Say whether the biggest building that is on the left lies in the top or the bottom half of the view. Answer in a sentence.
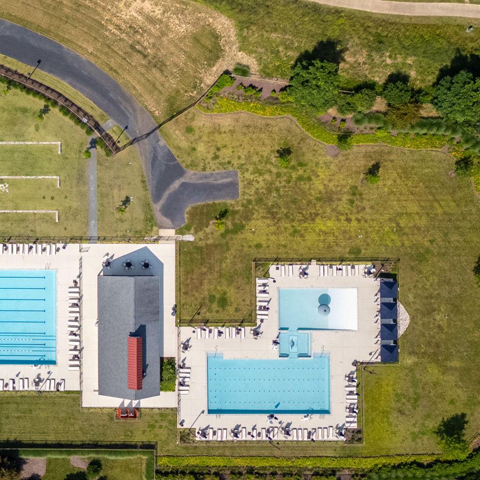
Seen from above, the biggest building that is on the left lies in the bottom half of the view.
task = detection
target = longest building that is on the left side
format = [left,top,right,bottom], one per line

[96,274,160,400]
